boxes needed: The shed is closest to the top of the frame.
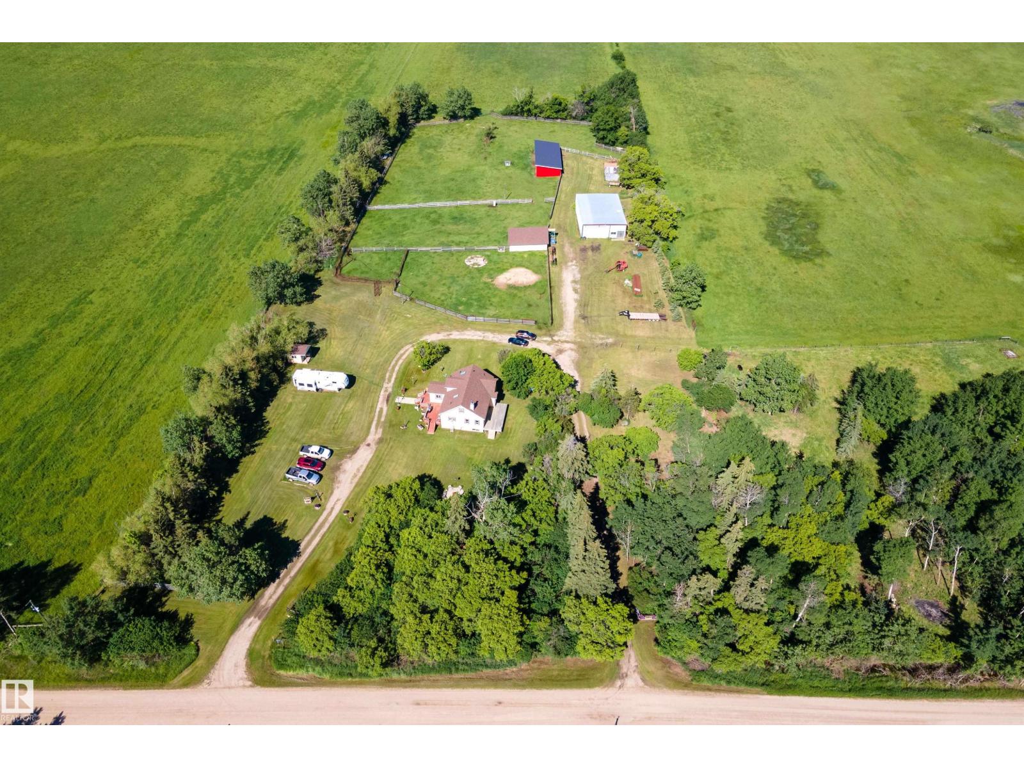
[534,140,563,177]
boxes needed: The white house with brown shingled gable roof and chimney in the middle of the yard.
[416,364,510,438]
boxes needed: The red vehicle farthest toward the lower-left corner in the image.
[297,456,323,471]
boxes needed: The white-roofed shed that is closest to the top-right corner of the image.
[575,193,628,240]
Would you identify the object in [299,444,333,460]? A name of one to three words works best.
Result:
vehicle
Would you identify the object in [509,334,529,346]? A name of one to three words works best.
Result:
vehicle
